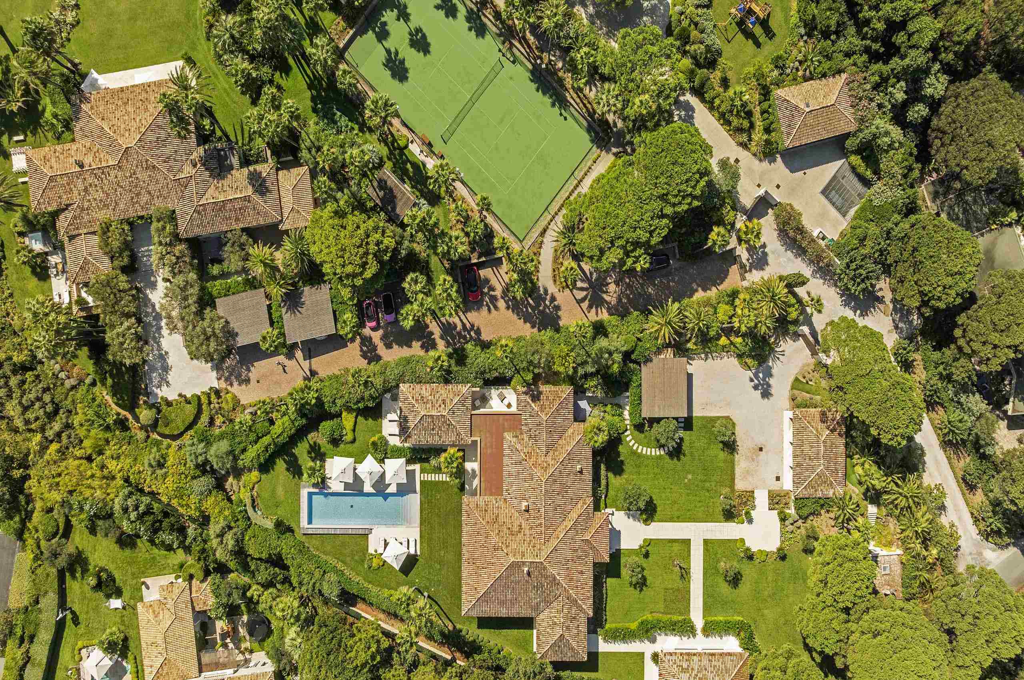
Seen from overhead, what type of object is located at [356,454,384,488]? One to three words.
umbrella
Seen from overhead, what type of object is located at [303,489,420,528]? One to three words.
swimming pool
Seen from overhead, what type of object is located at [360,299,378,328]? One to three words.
car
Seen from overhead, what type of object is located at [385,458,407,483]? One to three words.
umbrella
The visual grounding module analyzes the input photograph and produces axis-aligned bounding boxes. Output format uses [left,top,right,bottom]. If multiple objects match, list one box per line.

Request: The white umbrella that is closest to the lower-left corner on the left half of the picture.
[84,647,113,680]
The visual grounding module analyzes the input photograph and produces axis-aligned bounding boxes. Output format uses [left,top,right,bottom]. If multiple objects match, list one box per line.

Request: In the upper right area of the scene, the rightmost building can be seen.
[774,73,858,147]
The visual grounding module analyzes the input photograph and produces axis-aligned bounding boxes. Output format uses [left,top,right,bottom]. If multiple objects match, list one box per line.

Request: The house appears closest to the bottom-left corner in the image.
[136,576,278,680]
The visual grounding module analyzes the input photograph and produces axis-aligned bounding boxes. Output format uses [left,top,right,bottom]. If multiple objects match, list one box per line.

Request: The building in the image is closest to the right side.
[996,359,1024,415]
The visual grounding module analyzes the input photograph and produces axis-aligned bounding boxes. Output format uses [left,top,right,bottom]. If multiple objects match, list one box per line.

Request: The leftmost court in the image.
[347,0,601,241]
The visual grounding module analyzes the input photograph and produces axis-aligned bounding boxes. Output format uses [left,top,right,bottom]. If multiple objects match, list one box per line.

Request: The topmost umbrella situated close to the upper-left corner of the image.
[81,69,107,92]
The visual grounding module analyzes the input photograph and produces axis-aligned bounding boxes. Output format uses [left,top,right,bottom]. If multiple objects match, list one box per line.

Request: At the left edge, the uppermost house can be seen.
[24,75,322,317]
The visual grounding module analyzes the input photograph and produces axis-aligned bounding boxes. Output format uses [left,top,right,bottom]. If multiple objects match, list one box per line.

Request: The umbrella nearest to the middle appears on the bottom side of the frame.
[577,400,592,420]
